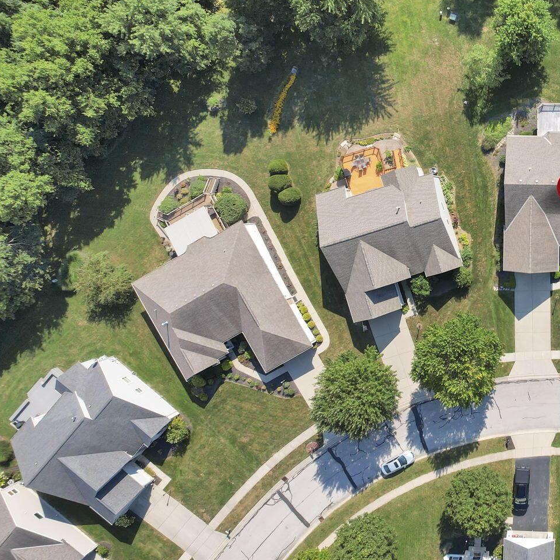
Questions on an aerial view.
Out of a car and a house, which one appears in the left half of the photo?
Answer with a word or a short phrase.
house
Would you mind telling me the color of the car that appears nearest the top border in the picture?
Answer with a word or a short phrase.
white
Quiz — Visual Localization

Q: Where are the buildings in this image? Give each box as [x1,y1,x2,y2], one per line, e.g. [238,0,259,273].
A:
[503,131,560,274]
[0,482,96,560]
[131,220,317,380]
[12,358,181,524]
[446,531,554,560]
[316,166,464,322]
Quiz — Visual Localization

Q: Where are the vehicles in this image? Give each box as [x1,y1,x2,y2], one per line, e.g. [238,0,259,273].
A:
[379,450,415,478]
[512,467,530,512]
